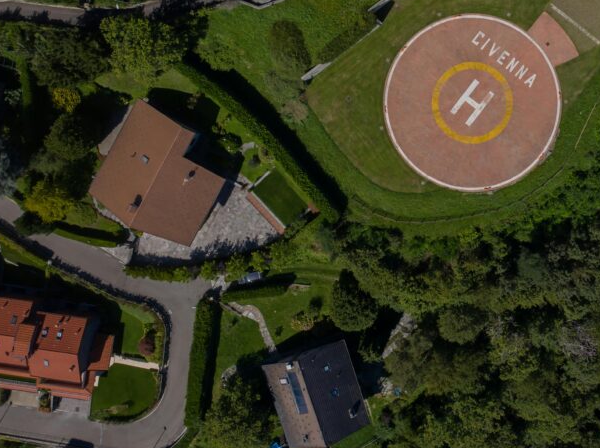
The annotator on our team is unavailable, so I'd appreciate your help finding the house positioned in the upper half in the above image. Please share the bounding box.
[90,99,228,246]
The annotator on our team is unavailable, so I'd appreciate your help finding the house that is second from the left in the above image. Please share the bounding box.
[30,304,121,399]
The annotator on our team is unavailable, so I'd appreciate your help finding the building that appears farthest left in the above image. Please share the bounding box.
[0,288,54,393]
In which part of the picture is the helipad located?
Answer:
top right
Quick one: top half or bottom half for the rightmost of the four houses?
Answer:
bottom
